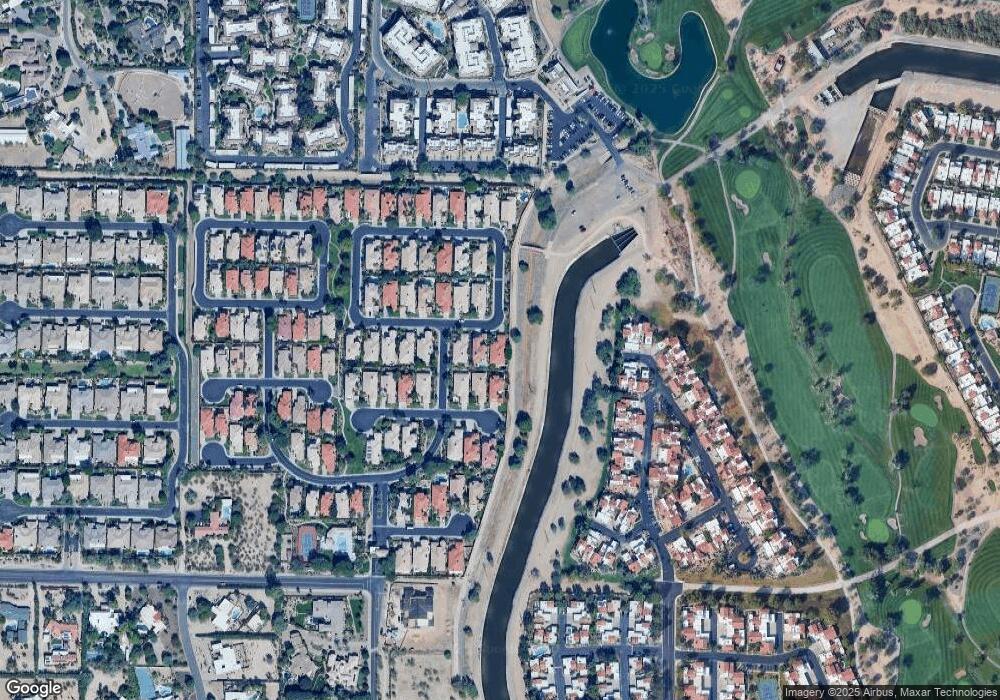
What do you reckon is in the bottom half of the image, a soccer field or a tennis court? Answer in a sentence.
You can see a tennis court in the bottom half of the image.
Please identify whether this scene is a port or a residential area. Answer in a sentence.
The area seen from above is a residential area.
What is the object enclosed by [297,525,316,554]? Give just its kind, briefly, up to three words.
tennis court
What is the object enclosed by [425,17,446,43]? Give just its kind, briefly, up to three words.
swimming pool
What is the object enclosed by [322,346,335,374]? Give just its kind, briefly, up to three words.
house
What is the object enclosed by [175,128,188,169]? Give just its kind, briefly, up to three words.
barn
